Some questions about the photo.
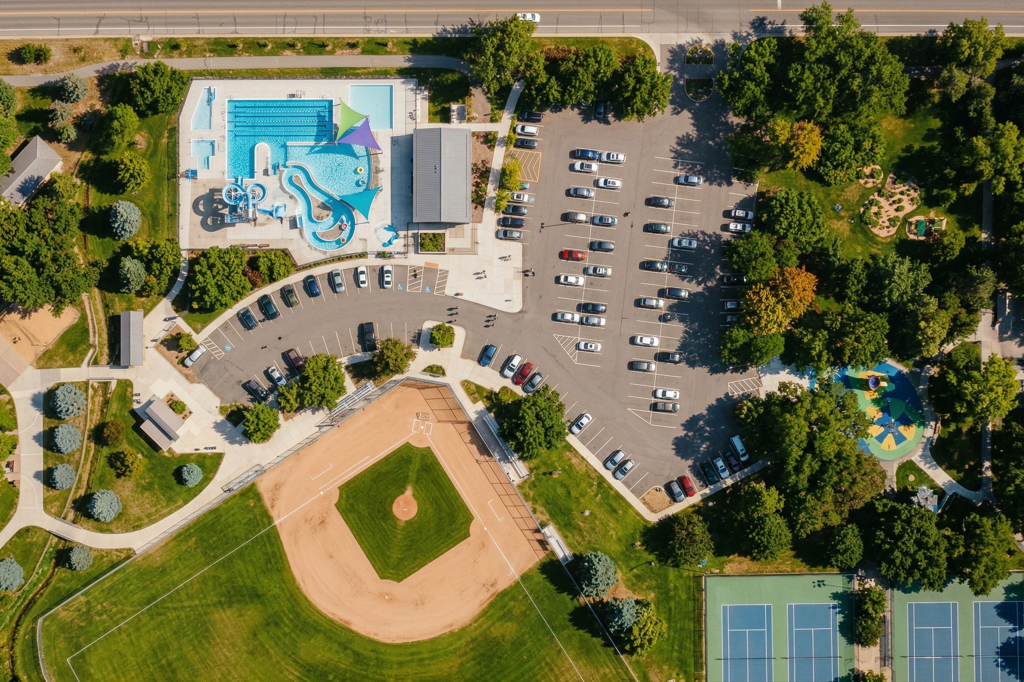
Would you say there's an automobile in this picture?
Yes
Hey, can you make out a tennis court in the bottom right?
Yes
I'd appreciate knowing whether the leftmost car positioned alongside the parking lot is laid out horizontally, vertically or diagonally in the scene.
diagonally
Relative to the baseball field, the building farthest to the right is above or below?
above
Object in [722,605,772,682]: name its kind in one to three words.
tennis court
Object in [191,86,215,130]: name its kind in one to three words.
swimming pool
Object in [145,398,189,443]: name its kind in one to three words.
shed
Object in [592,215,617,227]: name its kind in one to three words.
vehicle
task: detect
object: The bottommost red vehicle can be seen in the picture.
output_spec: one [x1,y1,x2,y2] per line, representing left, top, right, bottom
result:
[679,474,696,498]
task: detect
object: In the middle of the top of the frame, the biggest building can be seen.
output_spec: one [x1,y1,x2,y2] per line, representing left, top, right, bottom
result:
[413,127,471,230]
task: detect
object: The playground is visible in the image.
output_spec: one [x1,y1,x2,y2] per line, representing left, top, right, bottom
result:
[808,360,926,462]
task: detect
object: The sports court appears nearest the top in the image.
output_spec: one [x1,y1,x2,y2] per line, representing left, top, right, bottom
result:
[0,304,81,365]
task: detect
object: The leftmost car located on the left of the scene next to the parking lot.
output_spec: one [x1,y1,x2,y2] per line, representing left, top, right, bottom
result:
[186,345,206,367]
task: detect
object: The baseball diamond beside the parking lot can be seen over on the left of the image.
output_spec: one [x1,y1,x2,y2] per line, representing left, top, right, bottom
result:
[37,380,637,682]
